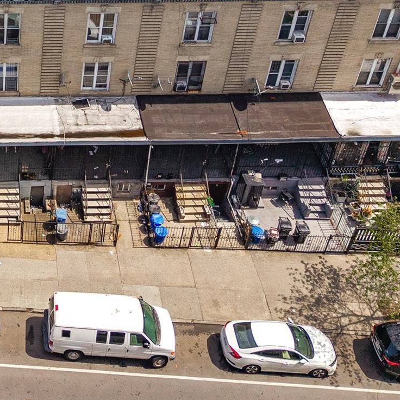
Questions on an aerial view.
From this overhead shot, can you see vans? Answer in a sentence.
Yes, a van appears in the view.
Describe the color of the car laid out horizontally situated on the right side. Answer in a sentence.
In this view, the car laid out horizontally situated on the right side is white.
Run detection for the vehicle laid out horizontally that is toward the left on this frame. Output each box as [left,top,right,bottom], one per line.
[42,291,185,367]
